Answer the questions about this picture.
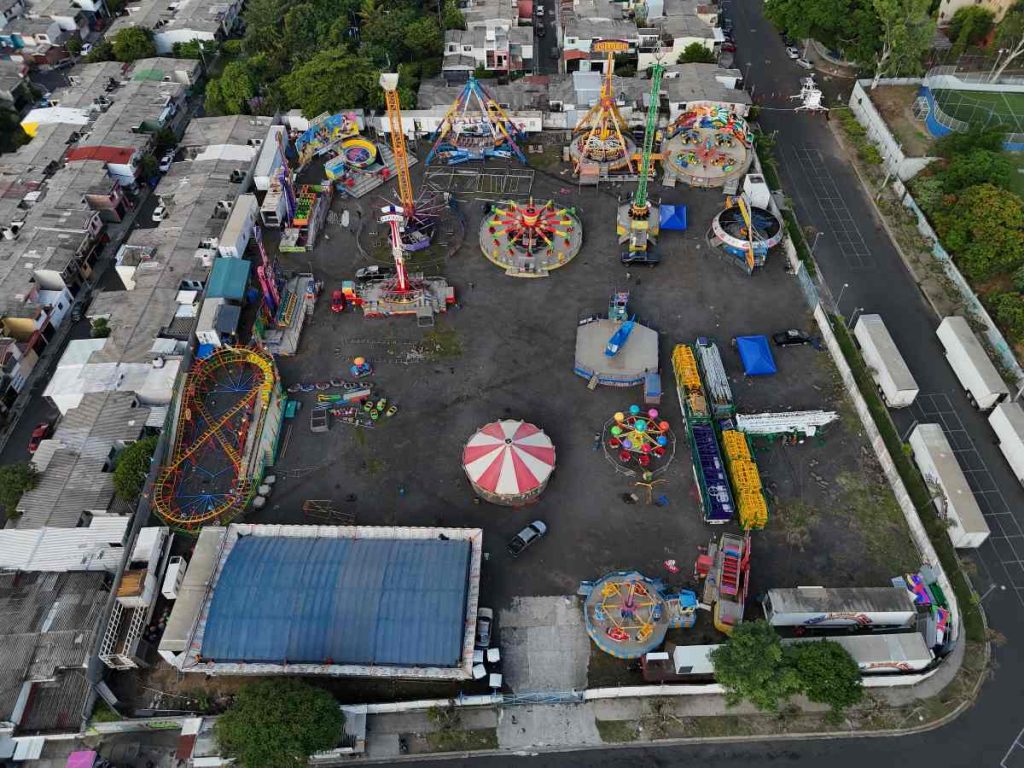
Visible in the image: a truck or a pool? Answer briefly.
truck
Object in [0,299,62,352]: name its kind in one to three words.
house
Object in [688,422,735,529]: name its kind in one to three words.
trailer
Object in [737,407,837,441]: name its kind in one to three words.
trailer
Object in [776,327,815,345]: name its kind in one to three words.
car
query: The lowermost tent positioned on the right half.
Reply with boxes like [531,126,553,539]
[733,335,776,387]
